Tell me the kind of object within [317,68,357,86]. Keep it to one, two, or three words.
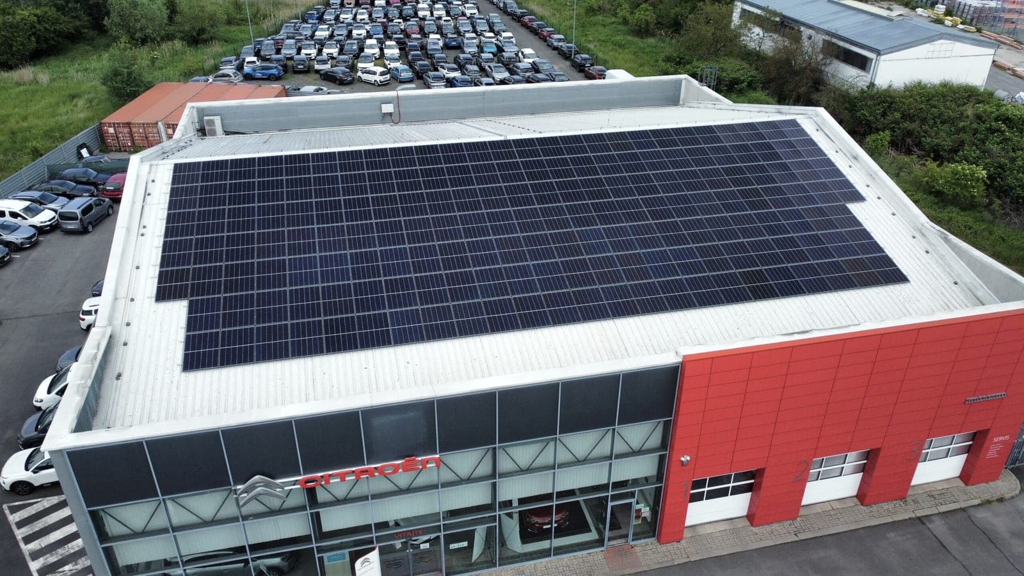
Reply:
car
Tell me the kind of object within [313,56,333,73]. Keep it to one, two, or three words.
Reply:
car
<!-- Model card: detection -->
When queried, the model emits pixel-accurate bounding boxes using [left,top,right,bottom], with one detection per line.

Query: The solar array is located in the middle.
[150,118,908,371]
